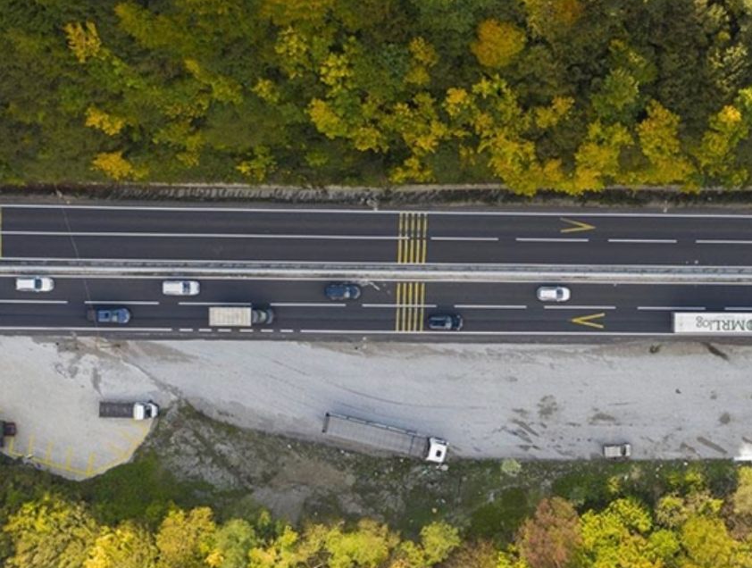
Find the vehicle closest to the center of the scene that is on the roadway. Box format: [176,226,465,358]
[325,283,360,300]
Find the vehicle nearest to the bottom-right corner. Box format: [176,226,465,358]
[602,442,629,458]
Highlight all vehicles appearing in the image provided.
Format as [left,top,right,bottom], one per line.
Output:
[99,399,162,421]
[427,315,462,331]
[19,277,55,293]
[675,312,752,334]
[87,307,131,325]
[322,413,449,465]
[209,306,277,326]
[602,442,629,458]
[537,286,570,302]
[163,280,200,297]
[325,283,360,300]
